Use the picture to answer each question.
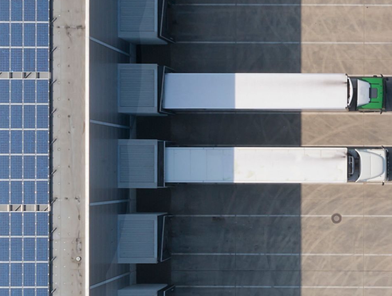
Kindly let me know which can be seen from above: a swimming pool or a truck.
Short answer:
truck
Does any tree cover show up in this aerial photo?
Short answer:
No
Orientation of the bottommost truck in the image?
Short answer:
horizontally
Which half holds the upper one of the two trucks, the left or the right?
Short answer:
right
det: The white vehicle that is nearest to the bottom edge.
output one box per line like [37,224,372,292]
[165,143,391,187]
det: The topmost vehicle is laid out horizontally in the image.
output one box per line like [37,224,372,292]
[165,70,391,114]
